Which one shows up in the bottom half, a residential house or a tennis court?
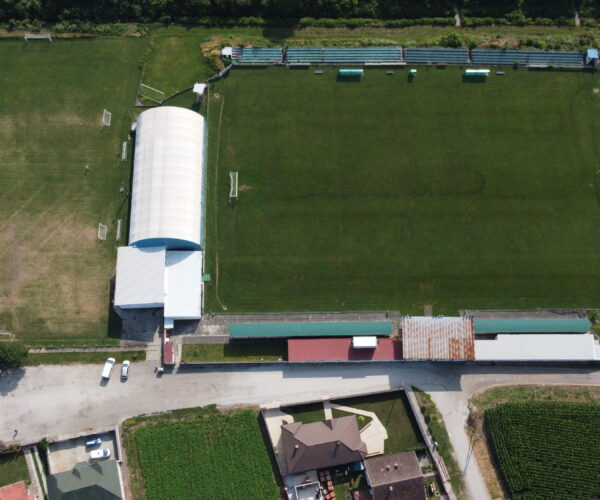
residential house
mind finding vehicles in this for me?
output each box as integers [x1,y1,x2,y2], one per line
[97,359,112,383]
[84,438,103,450]
[88,449,111,462]
[119,362,129,382]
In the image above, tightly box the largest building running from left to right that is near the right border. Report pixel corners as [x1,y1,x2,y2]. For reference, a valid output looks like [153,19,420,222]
[472,334,594,363]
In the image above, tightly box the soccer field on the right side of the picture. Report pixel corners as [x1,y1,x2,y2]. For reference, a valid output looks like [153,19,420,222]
[203,66,600,313]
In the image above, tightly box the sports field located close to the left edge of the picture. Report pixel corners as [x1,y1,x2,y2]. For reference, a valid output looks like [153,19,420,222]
[0,38,147,349]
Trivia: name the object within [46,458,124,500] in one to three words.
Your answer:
building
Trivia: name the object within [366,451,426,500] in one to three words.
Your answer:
house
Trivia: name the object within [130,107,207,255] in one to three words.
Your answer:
building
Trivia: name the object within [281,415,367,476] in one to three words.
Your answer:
house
